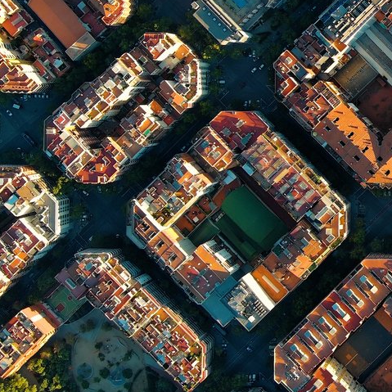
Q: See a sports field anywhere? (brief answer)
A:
Yes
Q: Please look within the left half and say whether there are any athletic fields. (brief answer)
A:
No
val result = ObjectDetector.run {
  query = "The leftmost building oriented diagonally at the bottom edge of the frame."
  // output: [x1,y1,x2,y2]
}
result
[0,296,73,377]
